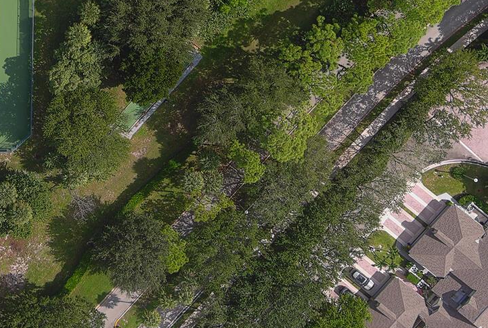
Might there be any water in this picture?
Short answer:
No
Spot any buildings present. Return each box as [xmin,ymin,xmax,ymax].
[342,272,488,328]
[400,203,488,301]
